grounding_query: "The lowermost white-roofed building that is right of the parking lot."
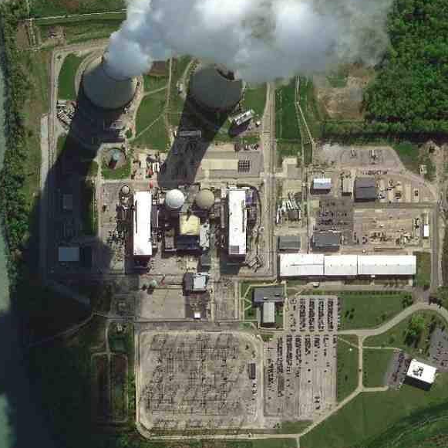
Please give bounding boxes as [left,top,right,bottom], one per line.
[405,357,437,386]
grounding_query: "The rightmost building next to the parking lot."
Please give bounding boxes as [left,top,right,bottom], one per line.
[357,255,416,275]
